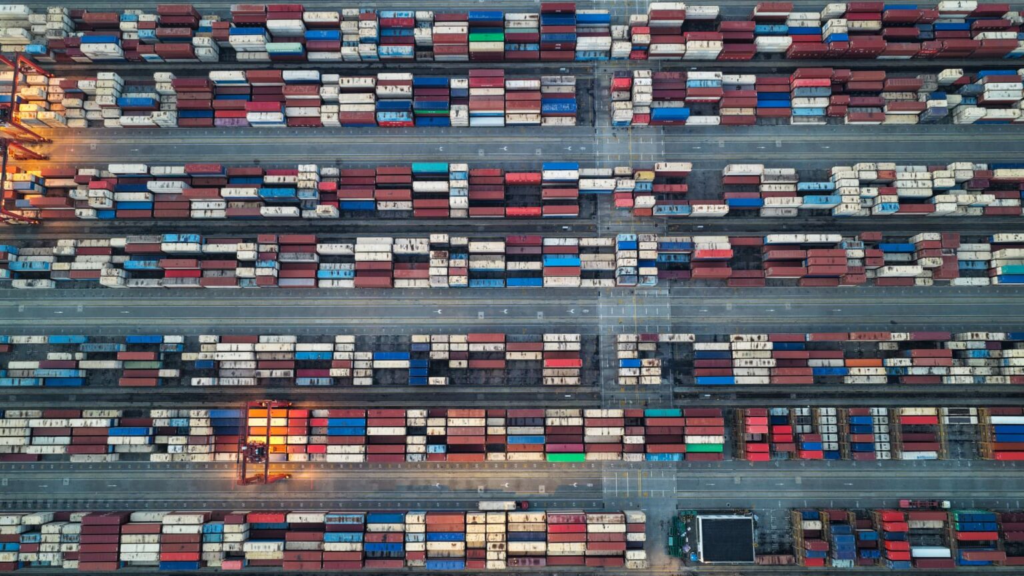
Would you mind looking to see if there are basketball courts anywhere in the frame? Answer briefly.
No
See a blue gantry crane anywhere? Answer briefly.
No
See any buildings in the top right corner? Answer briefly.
No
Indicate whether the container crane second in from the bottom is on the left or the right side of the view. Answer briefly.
left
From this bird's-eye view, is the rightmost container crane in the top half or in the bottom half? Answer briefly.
bottom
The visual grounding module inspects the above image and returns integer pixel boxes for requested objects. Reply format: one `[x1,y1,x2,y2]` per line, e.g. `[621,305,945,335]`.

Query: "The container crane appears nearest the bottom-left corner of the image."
[236,401,297,484]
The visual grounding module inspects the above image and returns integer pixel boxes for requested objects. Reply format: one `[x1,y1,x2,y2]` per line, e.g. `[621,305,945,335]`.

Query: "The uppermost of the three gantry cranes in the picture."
[0,52,60,142]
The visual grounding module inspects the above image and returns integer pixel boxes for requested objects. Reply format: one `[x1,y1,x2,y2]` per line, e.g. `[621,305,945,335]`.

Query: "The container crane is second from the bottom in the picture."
[0,138,51,225]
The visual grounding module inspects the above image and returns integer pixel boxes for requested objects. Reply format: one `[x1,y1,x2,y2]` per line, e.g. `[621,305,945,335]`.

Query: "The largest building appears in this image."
[696,513,754,563]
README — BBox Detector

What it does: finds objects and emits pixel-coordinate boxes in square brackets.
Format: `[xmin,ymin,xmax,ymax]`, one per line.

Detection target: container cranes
[0,138,51,225]
[236,401,297,484]
[0,52,60,142]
